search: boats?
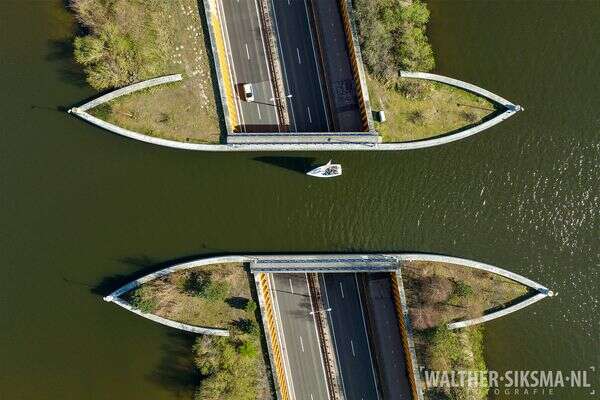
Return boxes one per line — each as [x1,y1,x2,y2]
[307,160,343,179]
